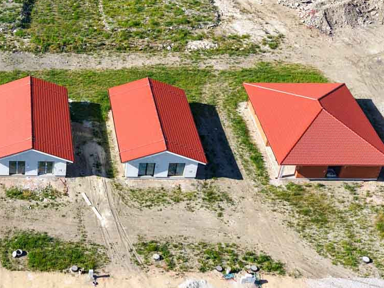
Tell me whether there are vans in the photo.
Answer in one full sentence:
No, the frame has no van in it.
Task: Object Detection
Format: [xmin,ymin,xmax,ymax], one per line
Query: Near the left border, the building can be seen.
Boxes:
[0,75,74,177]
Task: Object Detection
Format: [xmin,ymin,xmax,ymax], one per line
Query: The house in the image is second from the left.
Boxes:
[108,75,207,178]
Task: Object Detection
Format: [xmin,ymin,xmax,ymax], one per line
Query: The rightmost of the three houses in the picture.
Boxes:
[243,82,384,179]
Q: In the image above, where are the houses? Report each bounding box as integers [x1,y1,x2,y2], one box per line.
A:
[108,75,207,178]
[0,75,74,177]
[243,82,384,179]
